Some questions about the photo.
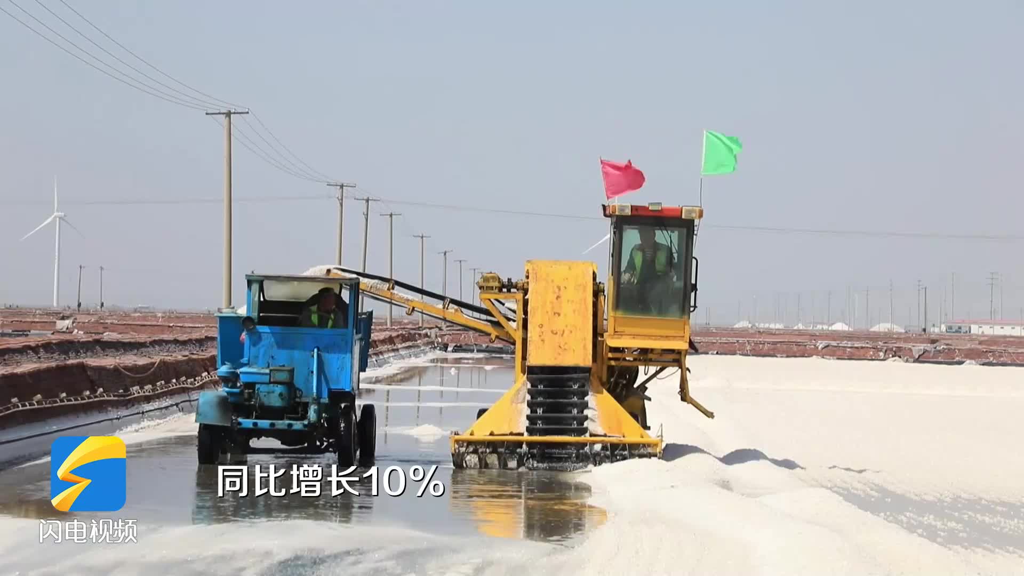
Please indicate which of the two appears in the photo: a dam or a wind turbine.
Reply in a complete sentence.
Visible in the photo is a wind turbine.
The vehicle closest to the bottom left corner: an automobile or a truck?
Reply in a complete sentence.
In the photo, the vehicle closest to the bottom left corner shows up as a truck.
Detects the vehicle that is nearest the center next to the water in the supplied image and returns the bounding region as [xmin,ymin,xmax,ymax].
[326,203,716,469]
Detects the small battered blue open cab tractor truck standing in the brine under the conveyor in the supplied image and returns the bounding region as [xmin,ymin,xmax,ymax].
[192,269,383,468]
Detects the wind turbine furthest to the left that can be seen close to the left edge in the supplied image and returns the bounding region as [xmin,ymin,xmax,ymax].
[29,171,84,310]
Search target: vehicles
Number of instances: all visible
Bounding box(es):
[326,203,716,469]
[192,269,383,468]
